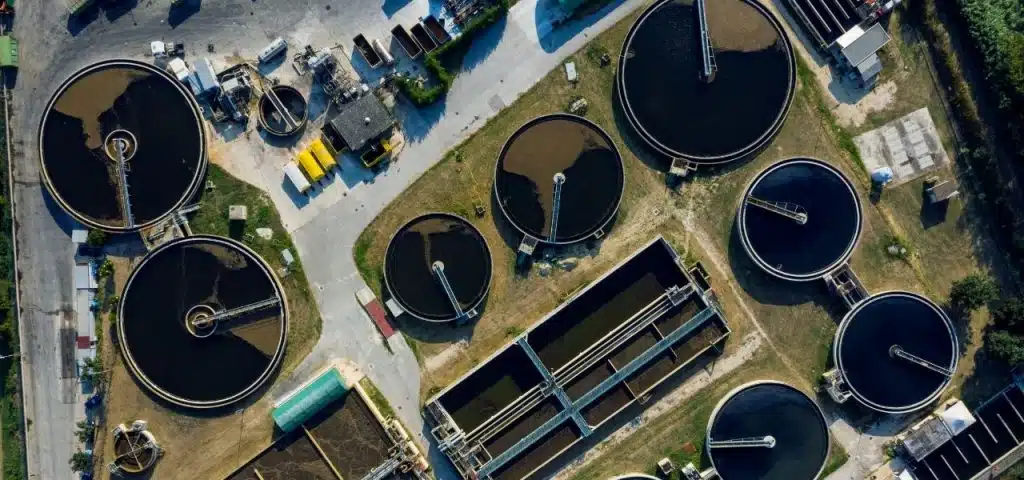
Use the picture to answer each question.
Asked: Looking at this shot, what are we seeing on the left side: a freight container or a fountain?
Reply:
freight container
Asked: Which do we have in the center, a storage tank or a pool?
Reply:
storage tank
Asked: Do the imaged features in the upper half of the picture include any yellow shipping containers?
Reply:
Yes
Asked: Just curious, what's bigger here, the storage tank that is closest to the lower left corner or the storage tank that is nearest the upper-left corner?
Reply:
the storage tank that is nearest the upper-left corner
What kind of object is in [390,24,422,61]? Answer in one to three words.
shipping container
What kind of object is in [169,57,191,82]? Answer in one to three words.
vehicle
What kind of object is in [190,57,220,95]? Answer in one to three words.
building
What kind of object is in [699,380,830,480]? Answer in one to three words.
storage tank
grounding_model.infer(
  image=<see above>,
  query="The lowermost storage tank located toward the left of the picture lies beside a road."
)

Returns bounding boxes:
[104,419,167,477]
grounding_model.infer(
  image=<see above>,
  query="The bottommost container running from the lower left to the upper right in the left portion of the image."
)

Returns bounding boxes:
[360,141,390,168]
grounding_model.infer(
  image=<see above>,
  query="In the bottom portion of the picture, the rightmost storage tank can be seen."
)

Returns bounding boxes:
[818,289,959,415]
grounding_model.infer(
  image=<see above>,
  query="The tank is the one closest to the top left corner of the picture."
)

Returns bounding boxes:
[37,60,211,231]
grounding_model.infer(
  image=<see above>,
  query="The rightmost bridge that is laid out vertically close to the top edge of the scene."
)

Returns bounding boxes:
[696,0,716,75]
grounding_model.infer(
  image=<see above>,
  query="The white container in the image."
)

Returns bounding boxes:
[284,160,313,196]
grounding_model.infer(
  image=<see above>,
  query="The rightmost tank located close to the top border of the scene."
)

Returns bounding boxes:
[616,0,797,177]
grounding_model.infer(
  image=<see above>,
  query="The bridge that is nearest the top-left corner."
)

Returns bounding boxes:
[116,140,134,227]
